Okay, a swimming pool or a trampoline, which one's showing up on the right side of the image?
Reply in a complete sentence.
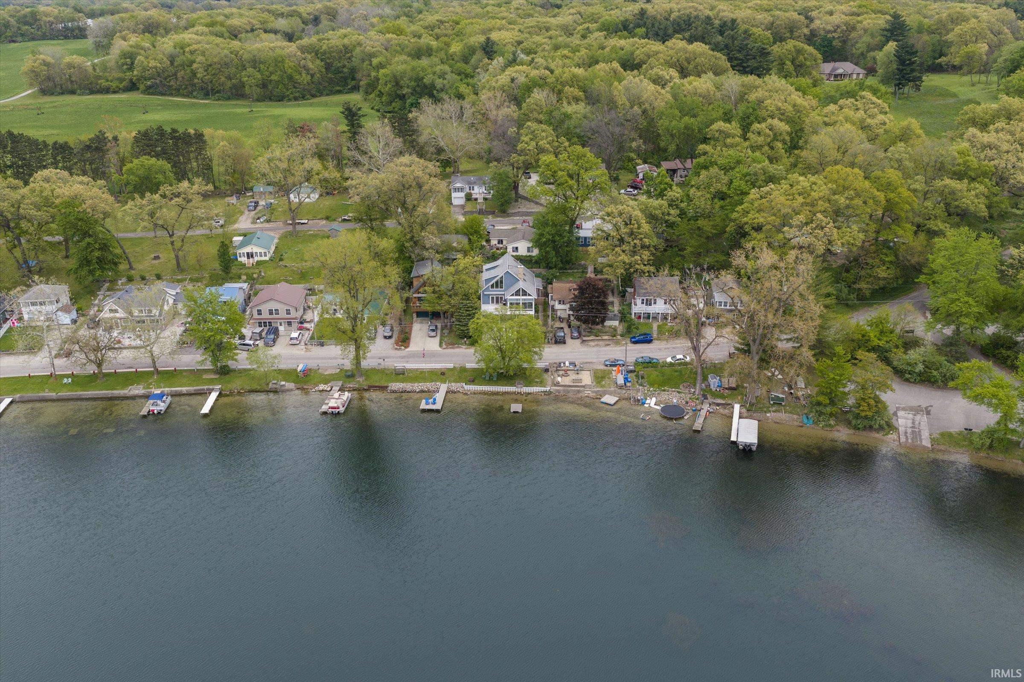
The one visible on the right side of the image is a trampoline.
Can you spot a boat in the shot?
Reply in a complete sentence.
Yes, the image includes a boat.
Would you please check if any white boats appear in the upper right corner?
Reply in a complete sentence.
No, the scene shows no white boat in the upper right corner.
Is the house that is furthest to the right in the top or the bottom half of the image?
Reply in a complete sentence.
Seen from above, the house that is furthest to the right lies in the top half of the view.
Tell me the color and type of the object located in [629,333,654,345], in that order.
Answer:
blue vehicle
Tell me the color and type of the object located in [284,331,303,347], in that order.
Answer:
white car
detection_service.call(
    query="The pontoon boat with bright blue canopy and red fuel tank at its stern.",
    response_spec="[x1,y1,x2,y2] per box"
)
[148,385,174,418]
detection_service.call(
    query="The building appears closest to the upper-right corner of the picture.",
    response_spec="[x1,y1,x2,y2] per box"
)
[814,60,868,81]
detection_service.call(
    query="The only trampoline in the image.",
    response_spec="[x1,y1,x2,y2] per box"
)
[659,400,688,425]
